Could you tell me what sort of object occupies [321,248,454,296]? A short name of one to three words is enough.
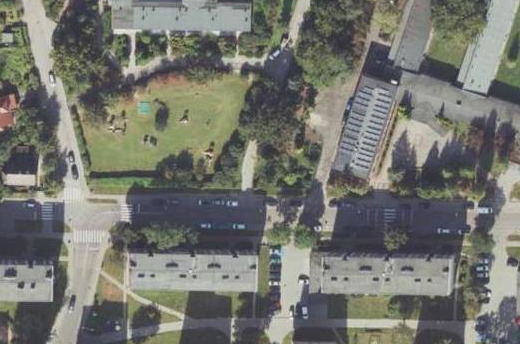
building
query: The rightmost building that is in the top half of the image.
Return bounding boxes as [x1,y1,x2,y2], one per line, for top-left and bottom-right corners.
[398,71,520,162]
